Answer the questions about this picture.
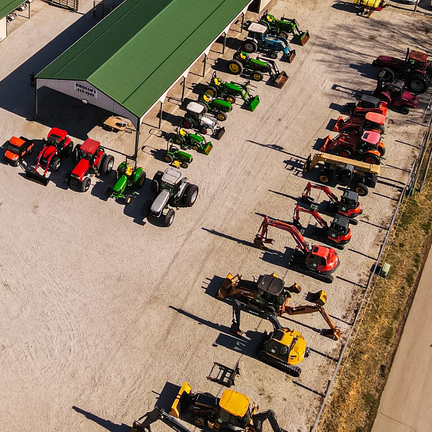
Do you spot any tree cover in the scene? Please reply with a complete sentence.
No, there's no tree cover in this view.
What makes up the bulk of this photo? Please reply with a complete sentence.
Most of the picture is covered by paved ground.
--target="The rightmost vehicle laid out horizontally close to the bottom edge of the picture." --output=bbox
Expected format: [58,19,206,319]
[167,384,286,432]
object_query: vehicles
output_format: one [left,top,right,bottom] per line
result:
[164,144,195,170]
[254,214,344,285]
[379,72,420,114]
[167,384,286,432]
[261,14,301,41]
[29,125,74,182]
[4,138,34,166]
[230,295,318,372]
[173,127,214,155]
[291,177,366,222]
[370,49,432,100]
[228,52,280,87]
[198,94,235,120]
[201,75,254,111]
[333,85,391,120]
[187,107,224,139]
[287,148,384,200]
[126,400,201,432]
[140,167,197,228]
[107,160,145,204]
[242,25,298,64]
[292,205,351,247]
[326,132,393,168]
[61,137,112,192]
[215,270,344,334]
